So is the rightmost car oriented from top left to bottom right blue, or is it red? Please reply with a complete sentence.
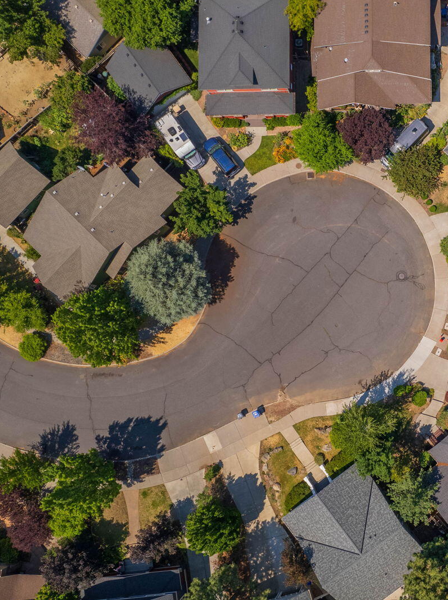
The color of the rightmost car oriented from top left to bottom right is blue.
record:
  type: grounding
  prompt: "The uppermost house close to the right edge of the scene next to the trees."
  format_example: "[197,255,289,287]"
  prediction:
[314,0,441,114]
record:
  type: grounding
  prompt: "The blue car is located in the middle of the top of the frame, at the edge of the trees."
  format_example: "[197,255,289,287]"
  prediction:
[203,136,241,180]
